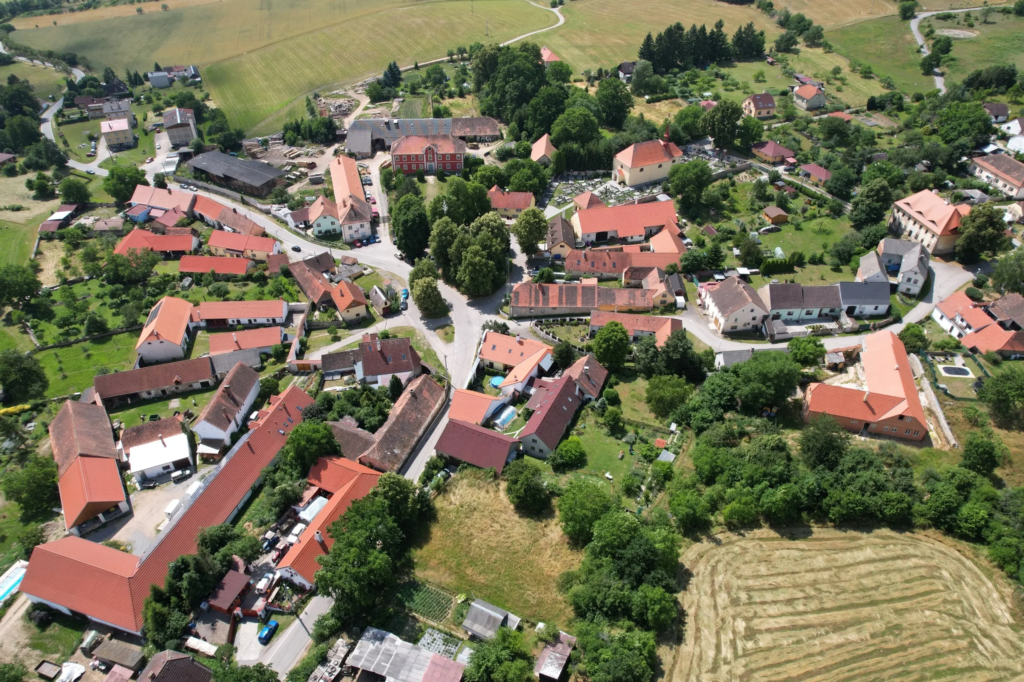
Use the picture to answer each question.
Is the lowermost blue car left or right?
left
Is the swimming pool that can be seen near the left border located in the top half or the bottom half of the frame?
bottom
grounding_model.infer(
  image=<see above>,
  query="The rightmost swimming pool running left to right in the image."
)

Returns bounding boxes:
[936,365,975,378]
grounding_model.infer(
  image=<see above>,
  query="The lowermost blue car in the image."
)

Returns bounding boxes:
[255,619,281,646]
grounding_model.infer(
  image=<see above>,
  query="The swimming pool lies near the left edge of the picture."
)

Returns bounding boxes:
[0,562,28,607]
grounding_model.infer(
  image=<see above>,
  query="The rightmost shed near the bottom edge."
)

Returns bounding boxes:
[541,631,575,682]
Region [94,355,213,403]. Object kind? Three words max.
barn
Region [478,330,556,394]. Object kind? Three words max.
house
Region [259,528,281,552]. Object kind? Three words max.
work vehicle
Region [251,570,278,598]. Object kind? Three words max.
vehicle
